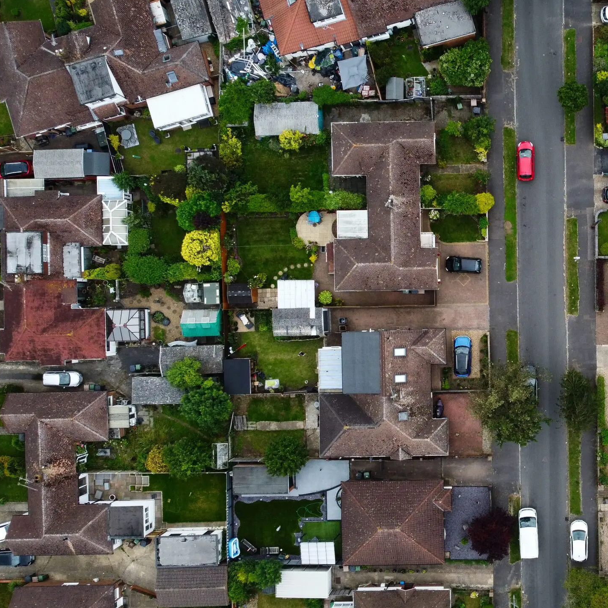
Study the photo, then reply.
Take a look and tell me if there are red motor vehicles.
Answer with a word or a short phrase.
Yes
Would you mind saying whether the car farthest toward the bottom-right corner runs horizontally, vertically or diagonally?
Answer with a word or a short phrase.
vertically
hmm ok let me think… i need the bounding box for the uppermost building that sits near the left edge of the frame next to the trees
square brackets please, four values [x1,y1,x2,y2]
[0,0,221,139]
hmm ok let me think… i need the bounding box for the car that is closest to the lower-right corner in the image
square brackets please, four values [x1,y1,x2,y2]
[569,519,590,561]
